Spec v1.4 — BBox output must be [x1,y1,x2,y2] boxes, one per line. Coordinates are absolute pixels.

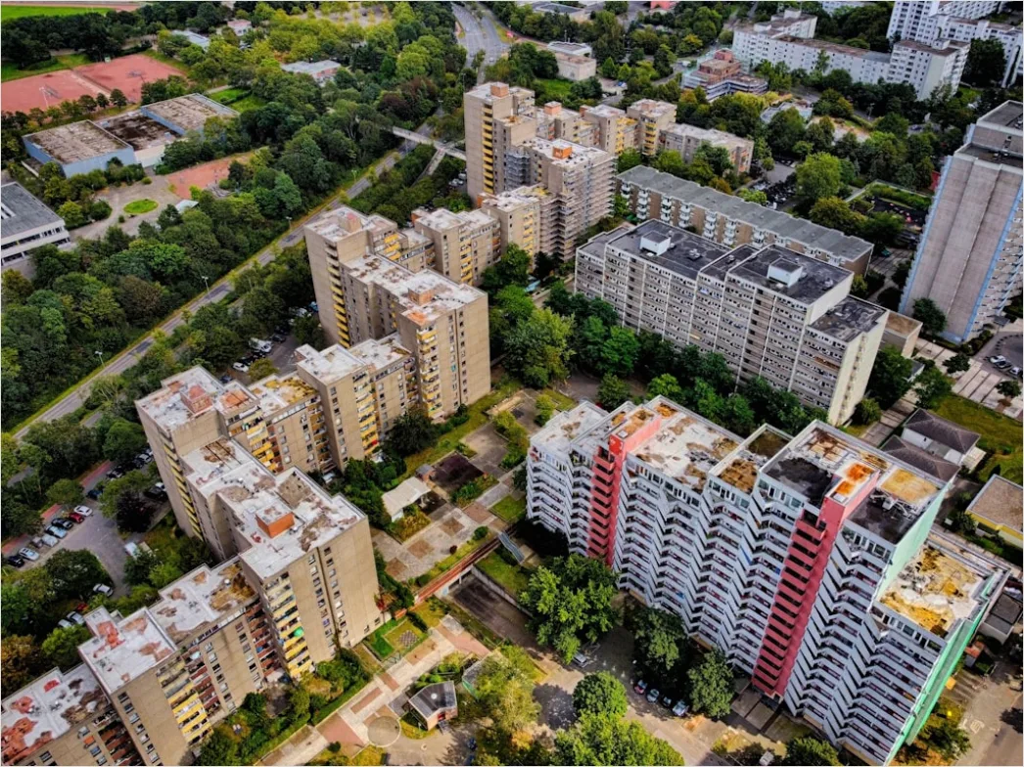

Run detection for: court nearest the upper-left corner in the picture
[0,54,187,105]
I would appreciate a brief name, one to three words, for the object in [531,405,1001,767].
building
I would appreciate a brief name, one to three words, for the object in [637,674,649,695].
vehicle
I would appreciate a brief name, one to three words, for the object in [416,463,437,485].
shed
